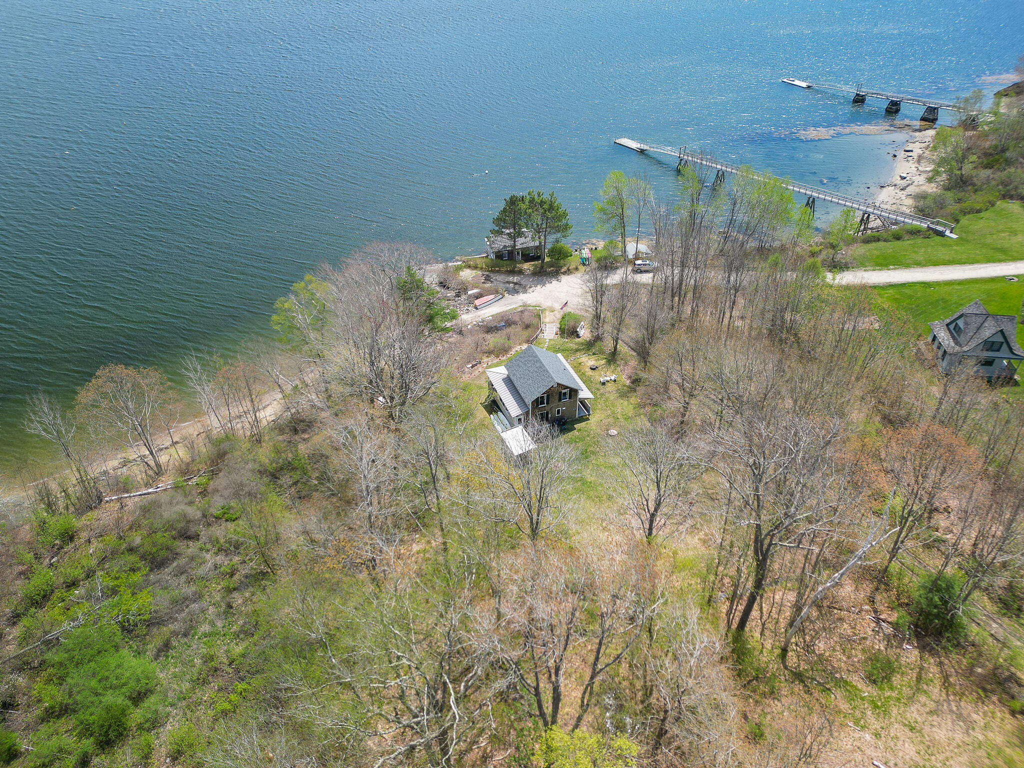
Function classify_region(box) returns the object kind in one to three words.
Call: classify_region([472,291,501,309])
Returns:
boat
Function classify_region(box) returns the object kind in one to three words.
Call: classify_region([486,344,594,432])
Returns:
house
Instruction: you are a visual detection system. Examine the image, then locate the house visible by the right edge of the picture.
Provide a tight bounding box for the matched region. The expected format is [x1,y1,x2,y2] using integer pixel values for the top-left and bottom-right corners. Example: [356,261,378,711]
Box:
[925,299,1024,379]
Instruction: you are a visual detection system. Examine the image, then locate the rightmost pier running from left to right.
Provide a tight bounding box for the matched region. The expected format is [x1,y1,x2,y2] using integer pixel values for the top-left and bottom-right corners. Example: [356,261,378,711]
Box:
[850,82,1017,122]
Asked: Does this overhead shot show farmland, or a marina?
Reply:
marina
